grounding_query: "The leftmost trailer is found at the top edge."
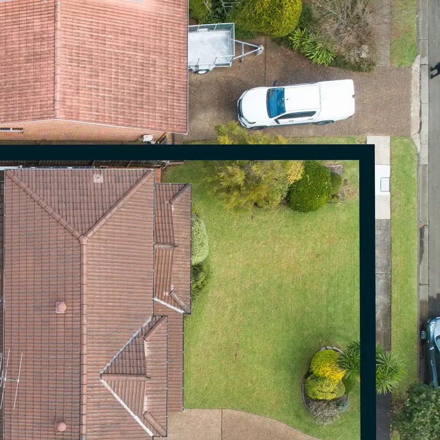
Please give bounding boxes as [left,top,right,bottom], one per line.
[191,21,263,75]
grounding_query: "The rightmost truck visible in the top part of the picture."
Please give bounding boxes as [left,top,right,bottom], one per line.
[234,81,356,132]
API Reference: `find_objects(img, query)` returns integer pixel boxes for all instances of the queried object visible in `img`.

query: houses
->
[0,0,191,141]
[0,166,194,440]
